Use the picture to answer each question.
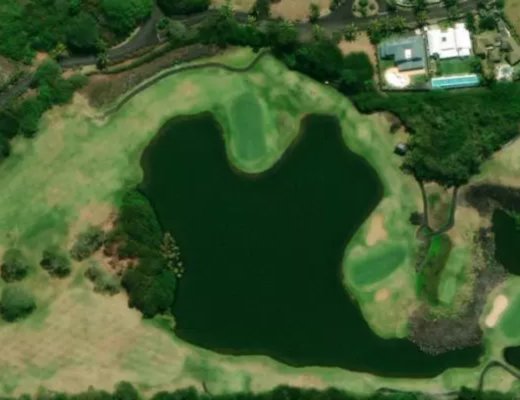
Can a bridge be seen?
No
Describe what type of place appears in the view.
golf course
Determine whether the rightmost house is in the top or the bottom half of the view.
top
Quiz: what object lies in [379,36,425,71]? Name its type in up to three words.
house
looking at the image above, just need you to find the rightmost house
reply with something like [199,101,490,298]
[475,33,520,68]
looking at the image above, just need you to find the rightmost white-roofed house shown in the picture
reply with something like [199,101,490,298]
[427,22,472,58]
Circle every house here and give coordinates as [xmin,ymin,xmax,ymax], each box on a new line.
[427,22,472,58]
[475,33,520,68]
[379,36,425,71]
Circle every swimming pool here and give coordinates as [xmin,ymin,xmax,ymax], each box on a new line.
[431,73,480,88]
